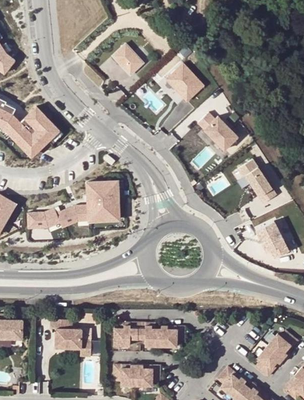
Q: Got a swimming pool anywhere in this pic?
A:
Yes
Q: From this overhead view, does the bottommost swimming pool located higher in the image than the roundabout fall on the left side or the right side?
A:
right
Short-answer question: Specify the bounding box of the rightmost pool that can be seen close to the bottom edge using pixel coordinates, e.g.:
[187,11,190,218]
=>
[80,358,100,390]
